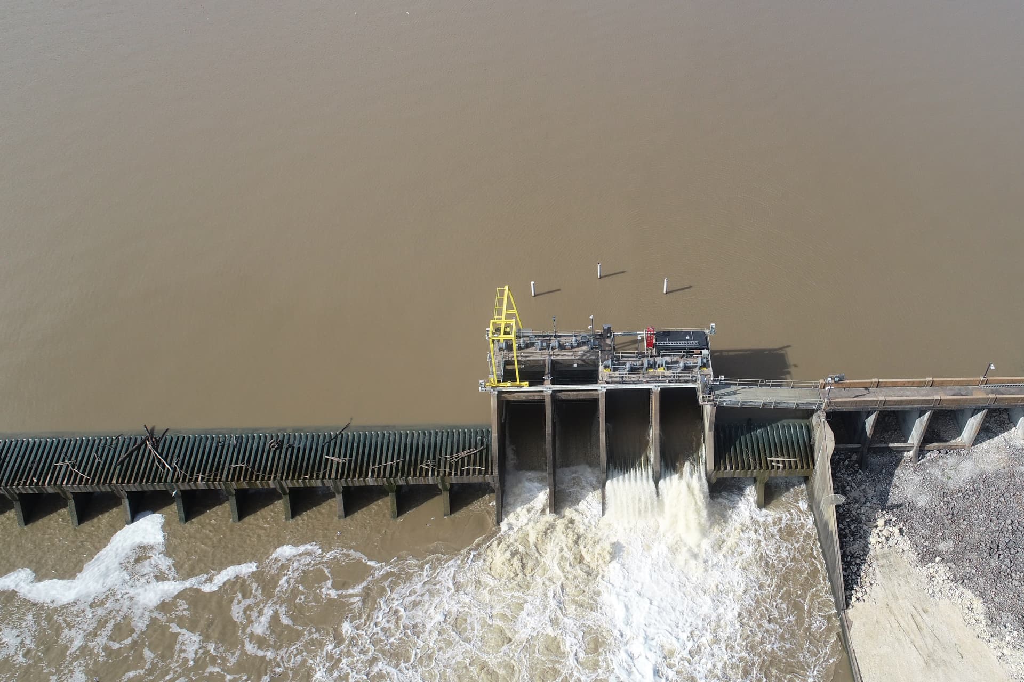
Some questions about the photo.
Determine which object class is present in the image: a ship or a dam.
dam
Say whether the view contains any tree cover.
No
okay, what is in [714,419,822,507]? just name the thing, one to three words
dam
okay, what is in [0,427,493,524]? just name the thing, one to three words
dam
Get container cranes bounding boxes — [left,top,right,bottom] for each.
[483,286,529,389]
